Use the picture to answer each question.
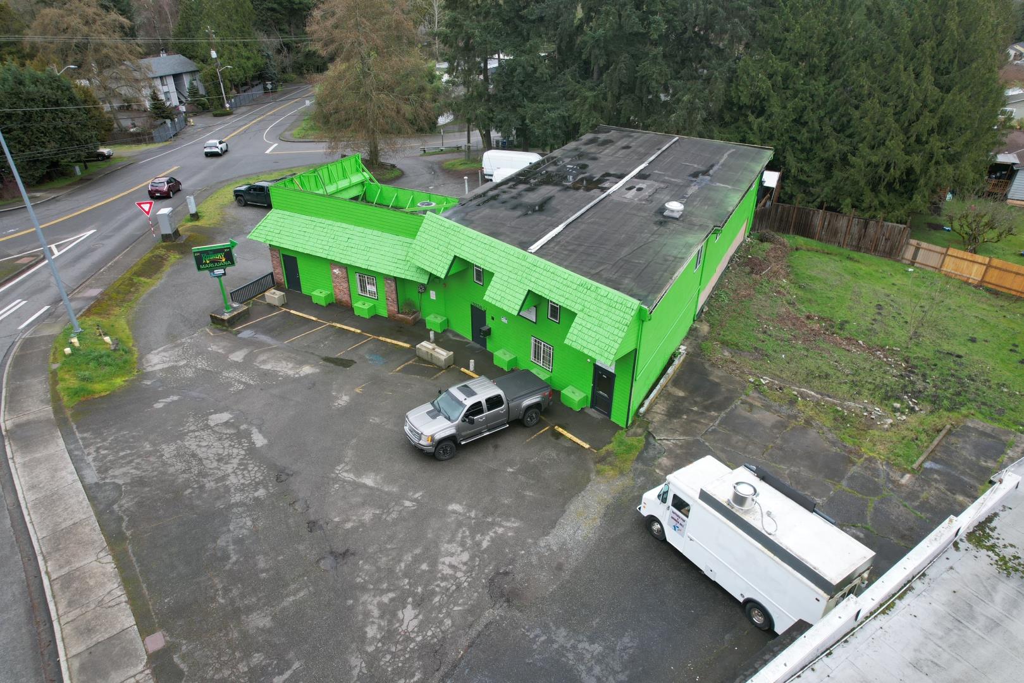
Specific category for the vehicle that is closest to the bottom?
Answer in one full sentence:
From above, the vehicle that is closest to the bottom can be identified as a truck.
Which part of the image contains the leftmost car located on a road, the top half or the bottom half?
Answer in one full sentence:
You can find the leftmost car located on a road in the top half.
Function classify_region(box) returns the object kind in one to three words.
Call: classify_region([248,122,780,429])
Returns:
building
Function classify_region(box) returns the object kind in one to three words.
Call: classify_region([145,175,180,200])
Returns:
car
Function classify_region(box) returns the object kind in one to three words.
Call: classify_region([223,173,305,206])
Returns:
truck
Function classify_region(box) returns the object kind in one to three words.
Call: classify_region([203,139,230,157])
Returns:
car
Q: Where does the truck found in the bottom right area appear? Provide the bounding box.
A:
[637,453,885,636]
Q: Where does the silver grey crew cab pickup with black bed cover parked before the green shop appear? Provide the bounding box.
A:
[398,367,558,459]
